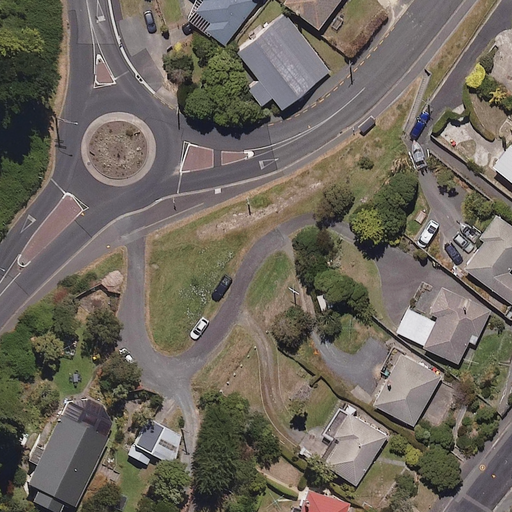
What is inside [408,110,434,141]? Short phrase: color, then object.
blue truck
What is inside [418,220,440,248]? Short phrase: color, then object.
white car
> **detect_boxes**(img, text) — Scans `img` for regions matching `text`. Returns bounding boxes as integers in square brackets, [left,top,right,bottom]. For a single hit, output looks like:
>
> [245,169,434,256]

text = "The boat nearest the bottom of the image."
[460,223,481,243]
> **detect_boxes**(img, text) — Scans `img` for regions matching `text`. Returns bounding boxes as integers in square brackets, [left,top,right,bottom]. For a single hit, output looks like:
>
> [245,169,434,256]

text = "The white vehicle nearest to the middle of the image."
[190,316,210,342]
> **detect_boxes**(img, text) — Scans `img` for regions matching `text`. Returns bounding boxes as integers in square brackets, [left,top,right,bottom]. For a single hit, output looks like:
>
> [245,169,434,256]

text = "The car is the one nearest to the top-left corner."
[142,8,156,34]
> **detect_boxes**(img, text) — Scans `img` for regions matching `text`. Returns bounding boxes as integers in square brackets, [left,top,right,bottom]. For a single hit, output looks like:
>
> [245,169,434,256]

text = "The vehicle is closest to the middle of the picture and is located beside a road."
[212,274,233,302]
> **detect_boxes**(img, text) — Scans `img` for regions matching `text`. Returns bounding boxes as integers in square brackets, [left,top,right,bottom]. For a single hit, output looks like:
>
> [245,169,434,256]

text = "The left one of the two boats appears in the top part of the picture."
[412,139,426,168]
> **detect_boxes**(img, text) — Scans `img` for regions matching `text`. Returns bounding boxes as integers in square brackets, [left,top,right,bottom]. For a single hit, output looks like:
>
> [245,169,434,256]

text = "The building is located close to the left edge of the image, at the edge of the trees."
[23,400,112,512]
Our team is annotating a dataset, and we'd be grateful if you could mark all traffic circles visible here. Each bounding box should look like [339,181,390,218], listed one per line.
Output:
[80,112,156,186]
